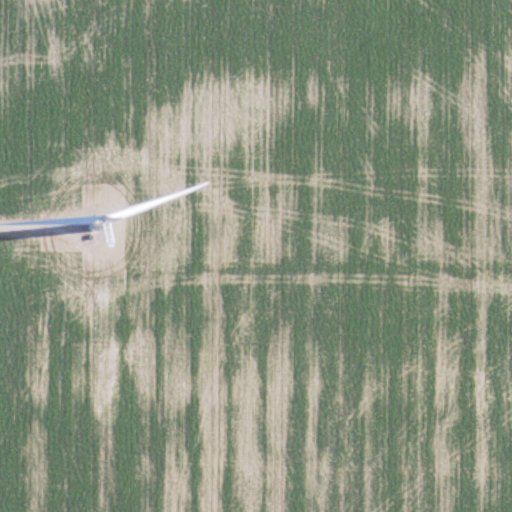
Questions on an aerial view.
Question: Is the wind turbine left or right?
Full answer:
The wind turbine sits on the left side.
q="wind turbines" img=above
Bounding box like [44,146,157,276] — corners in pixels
[0,182,209,247]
